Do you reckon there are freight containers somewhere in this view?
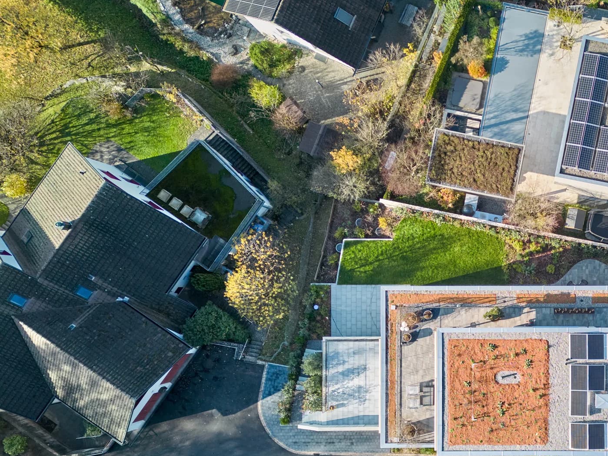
No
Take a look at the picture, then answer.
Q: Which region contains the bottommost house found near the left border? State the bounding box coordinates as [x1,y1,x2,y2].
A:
[0,142,209,446]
